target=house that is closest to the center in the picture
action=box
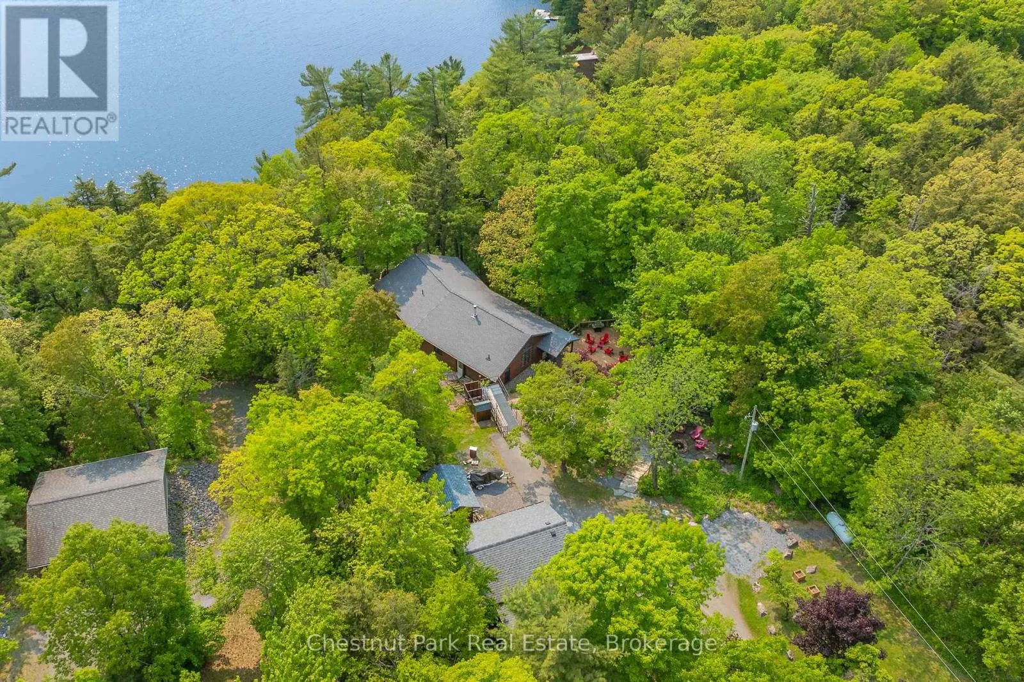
[374,252,583,398]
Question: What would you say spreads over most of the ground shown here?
trees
